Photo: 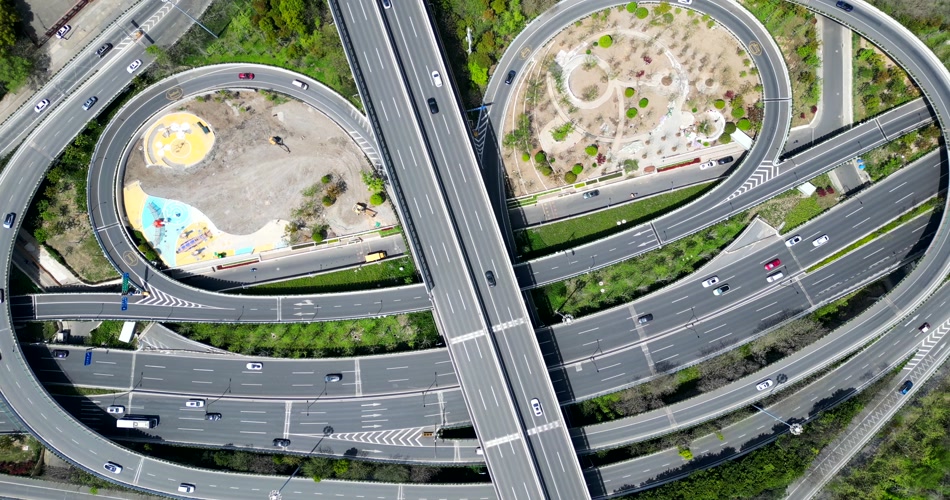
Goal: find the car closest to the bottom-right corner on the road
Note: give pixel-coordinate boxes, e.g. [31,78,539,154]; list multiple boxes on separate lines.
[898,380,912,394]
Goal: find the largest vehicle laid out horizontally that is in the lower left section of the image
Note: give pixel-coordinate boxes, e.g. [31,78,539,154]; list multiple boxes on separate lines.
[115,416,162,429]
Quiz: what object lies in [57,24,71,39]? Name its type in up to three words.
car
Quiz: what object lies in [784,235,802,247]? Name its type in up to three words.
vehicle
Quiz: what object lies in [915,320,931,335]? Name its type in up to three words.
car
